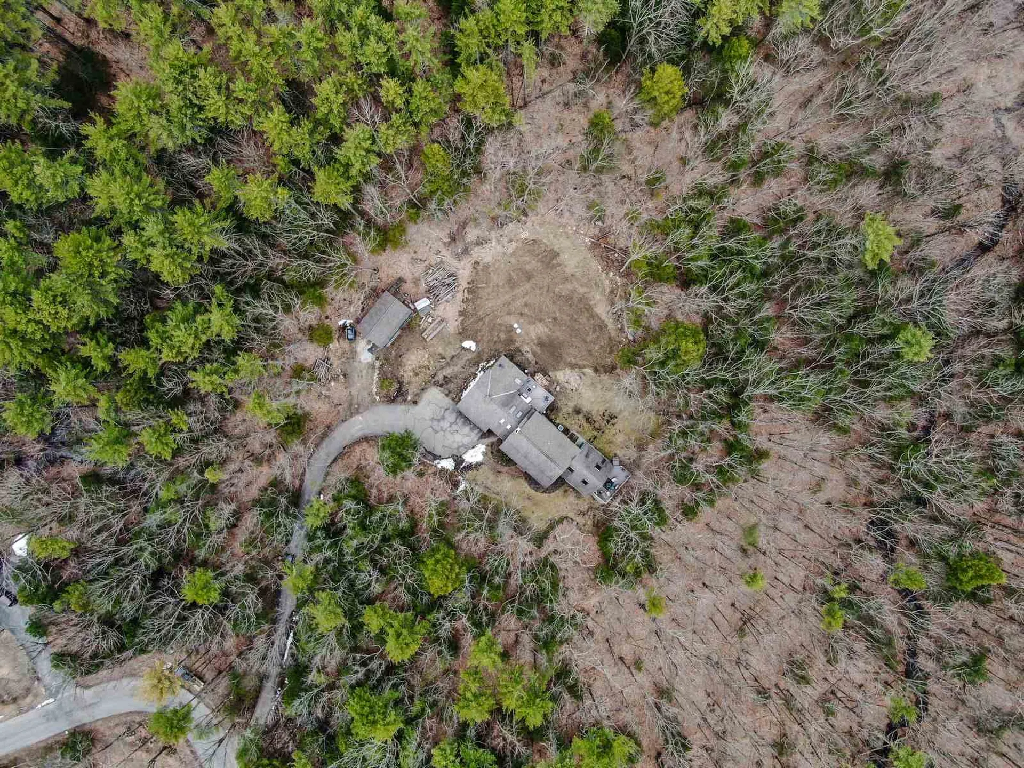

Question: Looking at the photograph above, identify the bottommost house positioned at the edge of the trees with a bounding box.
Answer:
[457,355,629,502]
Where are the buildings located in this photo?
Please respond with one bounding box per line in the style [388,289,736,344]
[457,355,629,502]
[413,298,431,316]
[358,291,413,347]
